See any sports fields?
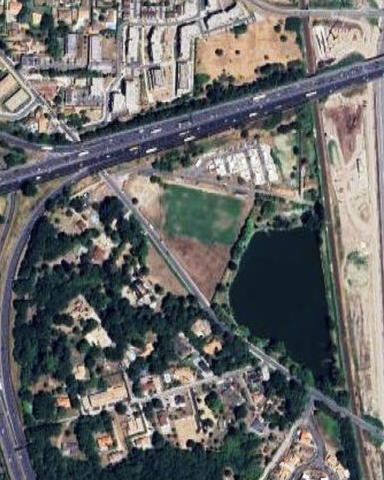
Yes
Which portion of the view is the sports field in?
center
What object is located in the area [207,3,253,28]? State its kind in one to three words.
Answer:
building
